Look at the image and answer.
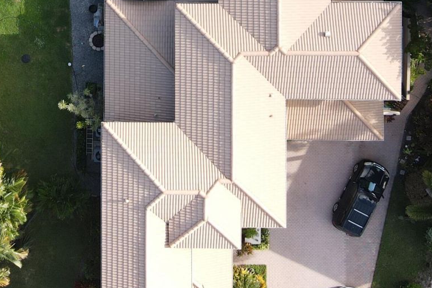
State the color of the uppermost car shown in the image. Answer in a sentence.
The uppermost car looks black in the image.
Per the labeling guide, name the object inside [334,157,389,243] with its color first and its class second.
black car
